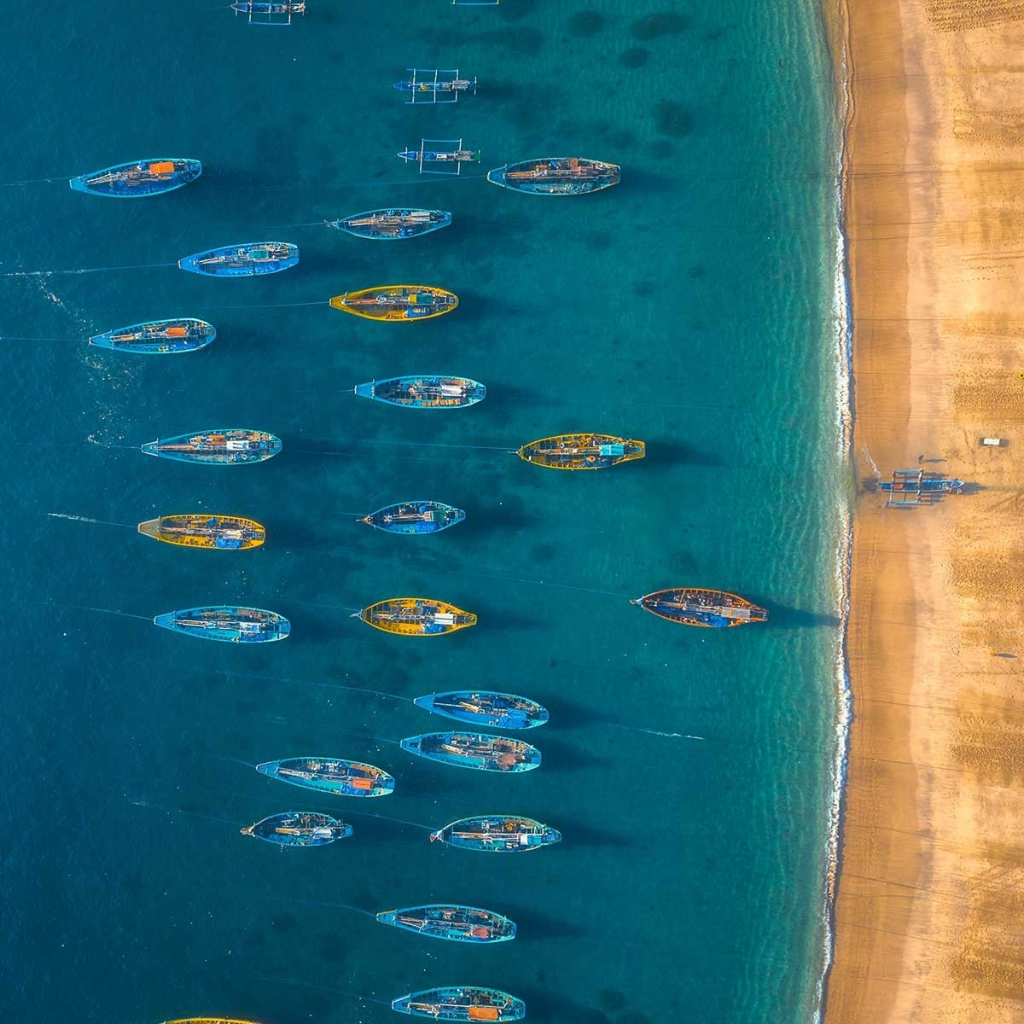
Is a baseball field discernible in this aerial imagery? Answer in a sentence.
No, the photo shows no baseball field.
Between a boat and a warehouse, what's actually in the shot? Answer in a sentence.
This aerial view contains a boat.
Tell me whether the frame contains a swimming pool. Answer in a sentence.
No, I find no swimming pool anywhere in the image.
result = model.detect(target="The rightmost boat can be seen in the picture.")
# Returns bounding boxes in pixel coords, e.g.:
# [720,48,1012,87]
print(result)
[877,469,964,504]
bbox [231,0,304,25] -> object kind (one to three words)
boat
